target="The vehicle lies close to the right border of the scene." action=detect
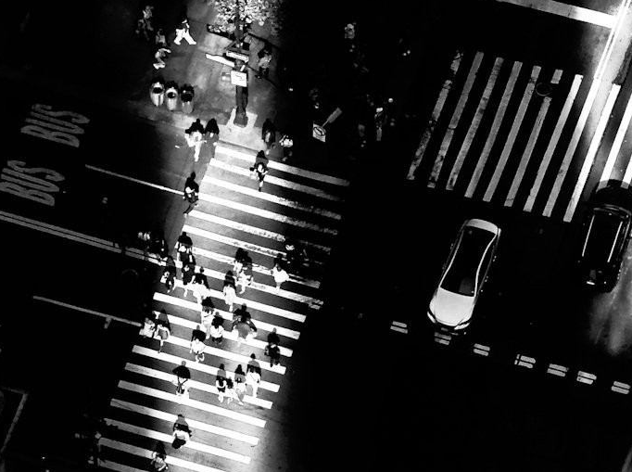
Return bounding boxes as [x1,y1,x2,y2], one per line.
[572,190,632,296]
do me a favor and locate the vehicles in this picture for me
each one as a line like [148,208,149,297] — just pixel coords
[572,190,632,296]
[431,220,498,331]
